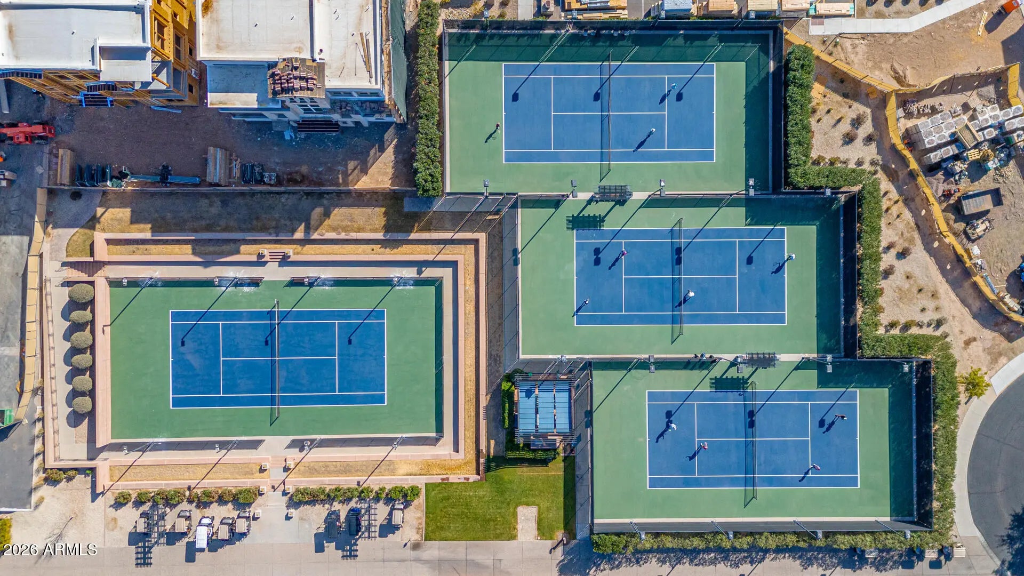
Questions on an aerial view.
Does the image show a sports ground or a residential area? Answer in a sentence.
The picture captures a sports ground.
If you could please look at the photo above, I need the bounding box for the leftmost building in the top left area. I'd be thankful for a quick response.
[0,0,211,112]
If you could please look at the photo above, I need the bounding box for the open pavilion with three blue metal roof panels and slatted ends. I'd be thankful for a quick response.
[515,373,576,447]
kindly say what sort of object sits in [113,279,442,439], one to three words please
tennis court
